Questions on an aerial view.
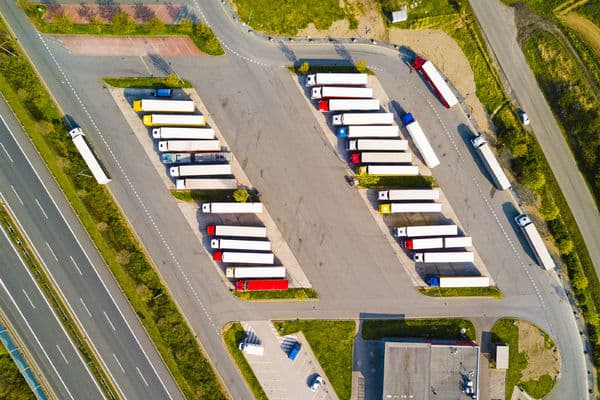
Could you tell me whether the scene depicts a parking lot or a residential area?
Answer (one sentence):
The picture captures a parking lot.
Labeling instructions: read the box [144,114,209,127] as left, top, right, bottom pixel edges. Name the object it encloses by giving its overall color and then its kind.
white vehicle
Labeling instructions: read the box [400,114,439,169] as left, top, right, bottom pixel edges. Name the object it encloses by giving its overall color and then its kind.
white truck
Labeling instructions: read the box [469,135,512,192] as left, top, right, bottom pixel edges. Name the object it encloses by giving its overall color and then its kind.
white truck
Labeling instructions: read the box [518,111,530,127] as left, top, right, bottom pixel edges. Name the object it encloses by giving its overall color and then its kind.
white vehicle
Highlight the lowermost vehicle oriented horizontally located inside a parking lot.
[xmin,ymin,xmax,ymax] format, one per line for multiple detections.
[240,341,265,355]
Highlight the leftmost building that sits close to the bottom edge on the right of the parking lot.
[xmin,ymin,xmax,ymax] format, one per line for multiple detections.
[384,340,432,400]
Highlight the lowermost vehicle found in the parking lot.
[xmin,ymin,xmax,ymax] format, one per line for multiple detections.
[309,373,323,391]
